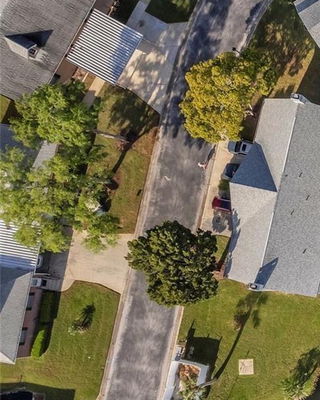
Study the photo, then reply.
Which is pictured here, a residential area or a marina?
residential area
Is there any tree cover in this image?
Yes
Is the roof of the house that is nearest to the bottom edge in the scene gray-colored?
Yes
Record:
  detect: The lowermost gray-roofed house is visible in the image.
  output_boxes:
[0,270,59,365]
